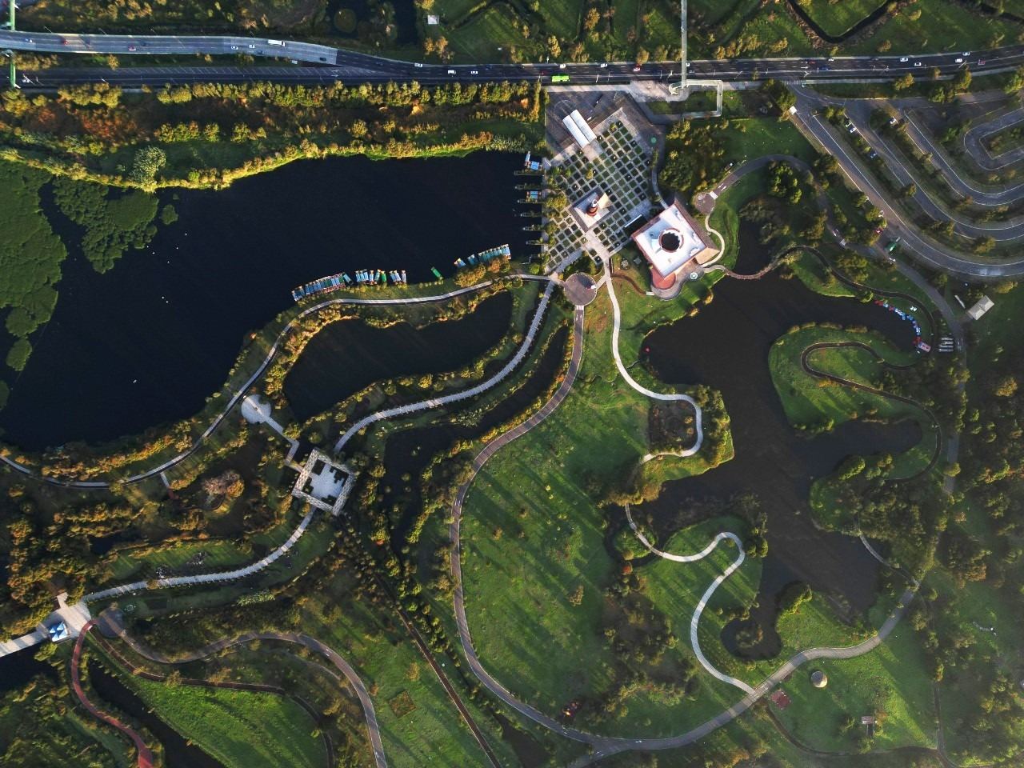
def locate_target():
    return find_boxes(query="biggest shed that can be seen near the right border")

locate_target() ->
[969,295,997,320]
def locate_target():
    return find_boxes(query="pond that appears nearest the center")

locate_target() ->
[283,290,512,424]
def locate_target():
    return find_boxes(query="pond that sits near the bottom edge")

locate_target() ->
[484,705,553,768]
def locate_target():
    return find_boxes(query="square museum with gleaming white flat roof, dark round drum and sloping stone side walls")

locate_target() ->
[630,199,721,280]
